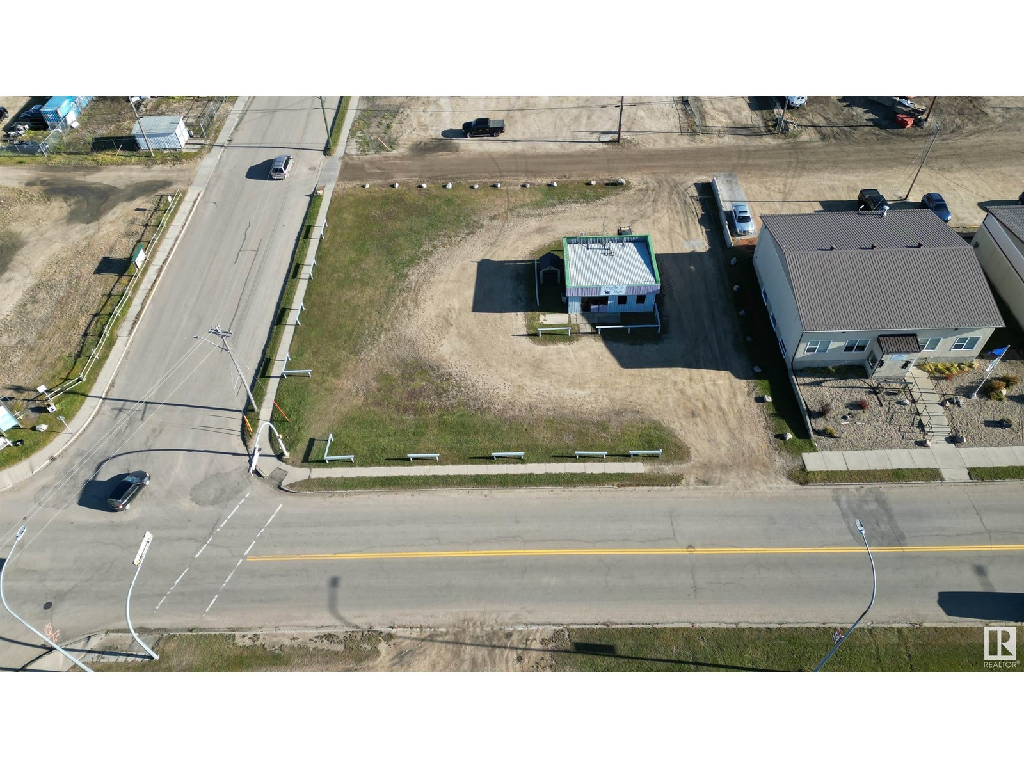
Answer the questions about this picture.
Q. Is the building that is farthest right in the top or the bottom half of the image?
top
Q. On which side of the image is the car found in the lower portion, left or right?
left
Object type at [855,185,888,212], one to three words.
truck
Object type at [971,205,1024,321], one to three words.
building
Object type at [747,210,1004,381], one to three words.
building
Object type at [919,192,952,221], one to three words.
car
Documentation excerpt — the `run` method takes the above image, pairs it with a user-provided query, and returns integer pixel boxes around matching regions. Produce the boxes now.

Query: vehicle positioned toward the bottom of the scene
[104,471,153,517]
